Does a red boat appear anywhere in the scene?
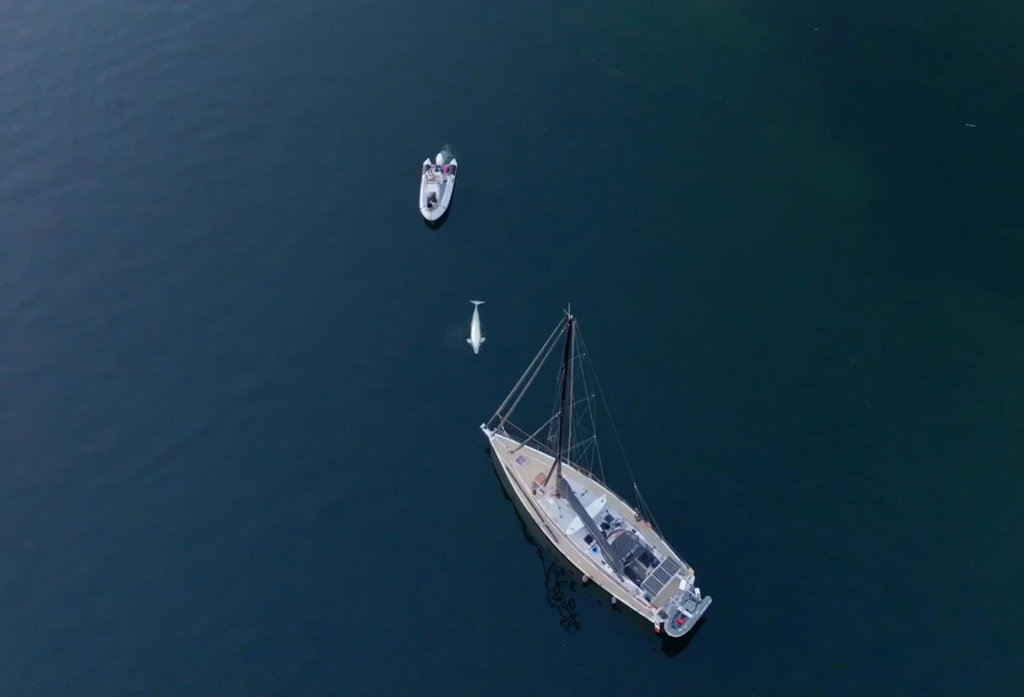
No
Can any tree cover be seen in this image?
No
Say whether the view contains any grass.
No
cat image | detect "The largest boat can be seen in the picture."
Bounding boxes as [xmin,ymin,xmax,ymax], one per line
[477,307,701,628]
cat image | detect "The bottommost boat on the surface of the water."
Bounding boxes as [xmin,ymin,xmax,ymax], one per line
[663,590,714,636]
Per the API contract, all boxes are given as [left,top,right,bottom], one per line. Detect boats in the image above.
[420,152,457,220]
[477,307,701,628]
[663,590,714,636]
